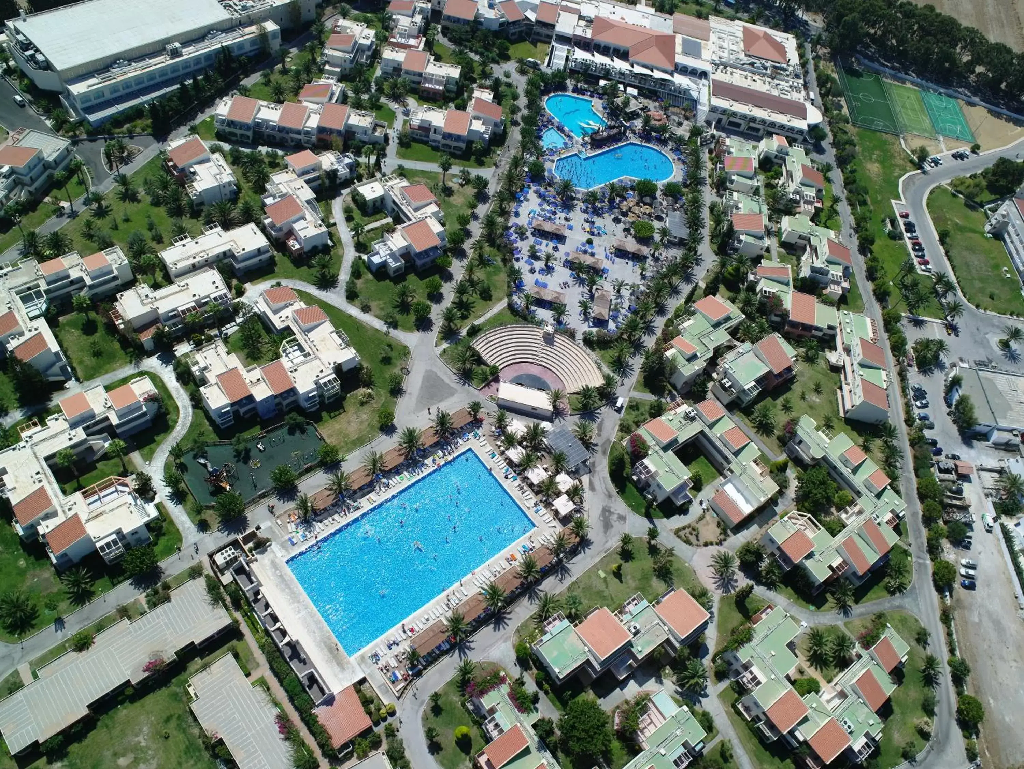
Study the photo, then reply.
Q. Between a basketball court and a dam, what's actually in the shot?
basketball court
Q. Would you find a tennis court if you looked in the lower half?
No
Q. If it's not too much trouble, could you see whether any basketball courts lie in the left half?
No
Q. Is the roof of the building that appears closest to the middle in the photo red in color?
No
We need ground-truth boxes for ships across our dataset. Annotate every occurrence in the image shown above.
[592,114,624,139]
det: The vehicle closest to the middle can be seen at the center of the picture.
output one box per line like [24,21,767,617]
[613,394,626,411]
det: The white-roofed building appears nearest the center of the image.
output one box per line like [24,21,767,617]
[496,380,555,418]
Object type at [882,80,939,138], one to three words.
tennis court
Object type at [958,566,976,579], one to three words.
vehicle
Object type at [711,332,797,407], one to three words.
house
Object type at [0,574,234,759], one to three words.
building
